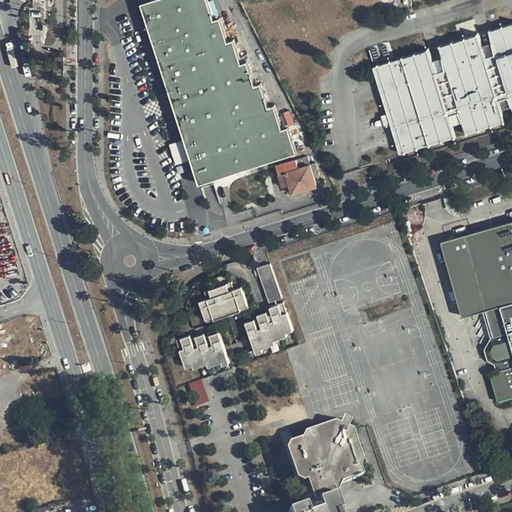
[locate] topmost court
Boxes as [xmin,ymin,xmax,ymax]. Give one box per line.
[335,262,400,308]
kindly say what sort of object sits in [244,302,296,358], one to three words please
building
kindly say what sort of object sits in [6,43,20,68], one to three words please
vehicle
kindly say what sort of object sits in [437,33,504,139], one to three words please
building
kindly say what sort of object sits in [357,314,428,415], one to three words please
sports court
